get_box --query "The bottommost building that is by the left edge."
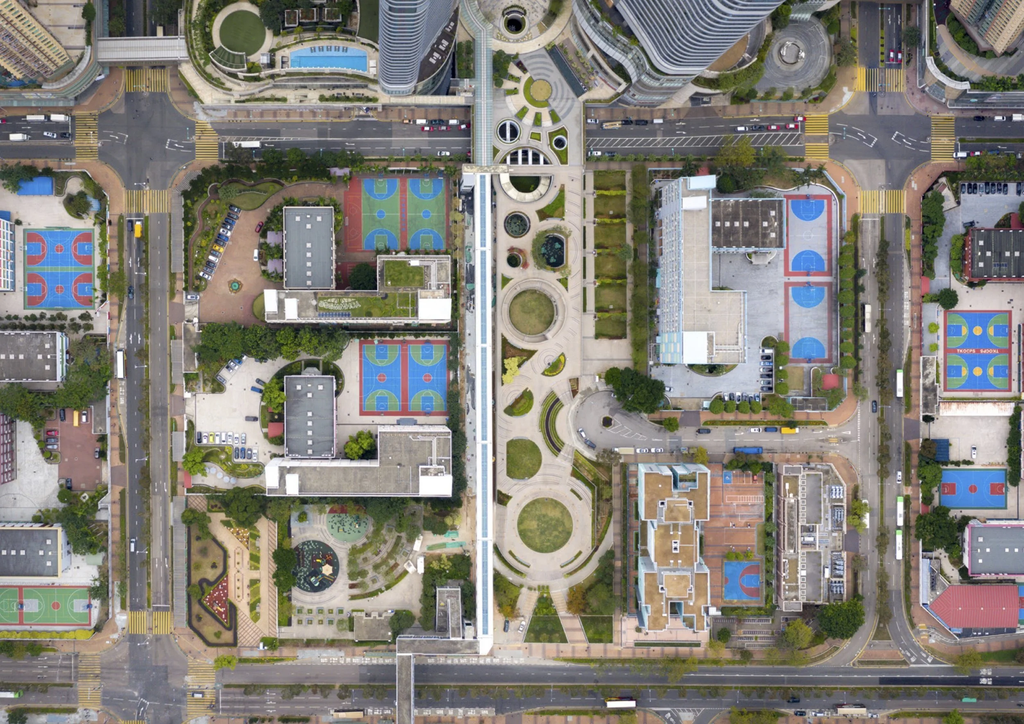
[0,519,73,578]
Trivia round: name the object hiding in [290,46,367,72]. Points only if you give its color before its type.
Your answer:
blue swimming pool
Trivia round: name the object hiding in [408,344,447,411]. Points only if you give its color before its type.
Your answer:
blue basketball court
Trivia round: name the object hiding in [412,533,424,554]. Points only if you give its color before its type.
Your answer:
white vehicle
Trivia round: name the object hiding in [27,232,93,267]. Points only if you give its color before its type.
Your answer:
blue basketball court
